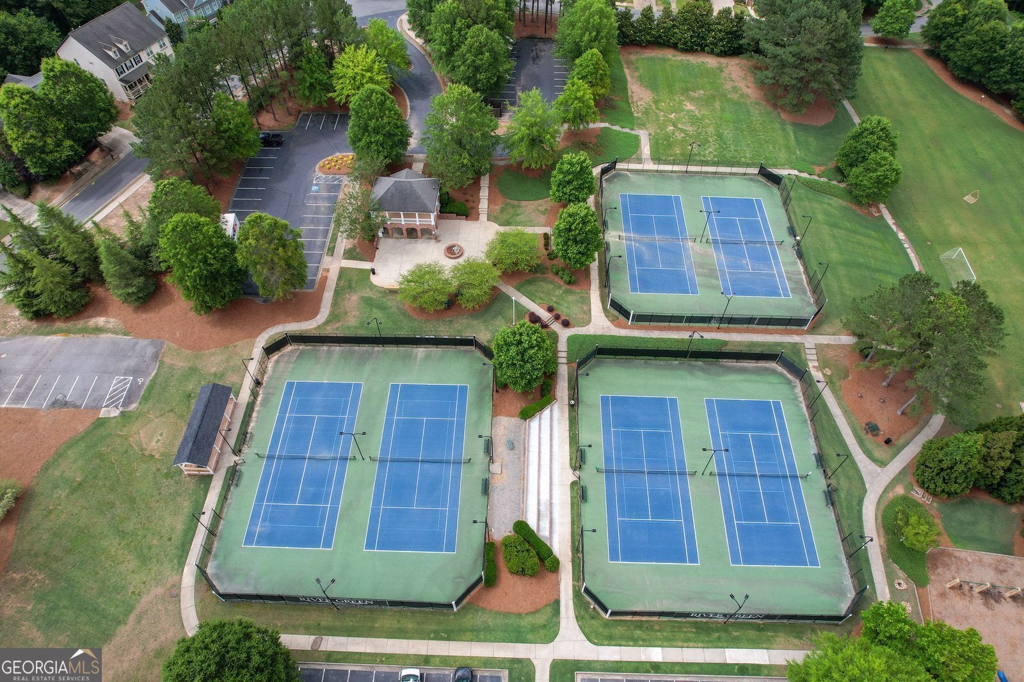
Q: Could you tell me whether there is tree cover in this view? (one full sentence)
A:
Yes, the picture does contain tree cover.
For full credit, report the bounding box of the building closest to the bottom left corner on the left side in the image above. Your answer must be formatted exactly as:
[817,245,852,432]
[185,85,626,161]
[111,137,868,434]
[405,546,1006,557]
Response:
[171,380,238,474]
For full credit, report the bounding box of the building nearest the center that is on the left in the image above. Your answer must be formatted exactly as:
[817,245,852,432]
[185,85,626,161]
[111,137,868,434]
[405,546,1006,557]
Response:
[369,163,441,241]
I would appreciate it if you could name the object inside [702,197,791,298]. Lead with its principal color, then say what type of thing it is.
blue tennis court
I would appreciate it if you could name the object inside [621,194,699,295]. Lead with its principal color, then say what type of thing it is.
blue tennis court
